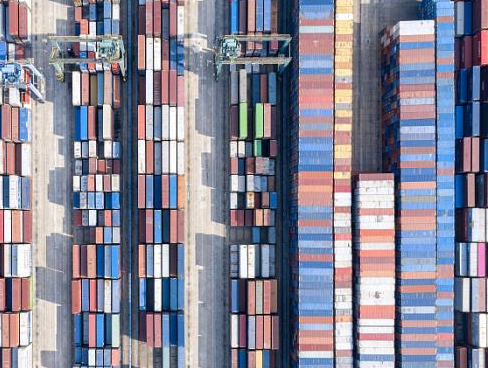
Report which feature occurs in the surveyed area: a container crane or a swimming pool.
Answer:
container crane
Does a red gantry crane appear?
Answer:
No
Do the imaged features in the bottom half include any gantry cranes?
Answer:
No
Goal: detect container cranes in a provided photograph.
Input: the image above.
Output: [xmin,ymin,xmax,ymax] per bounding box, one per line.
[49,32,128,81]
[0,58,44,103]
[215,34,297,81]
